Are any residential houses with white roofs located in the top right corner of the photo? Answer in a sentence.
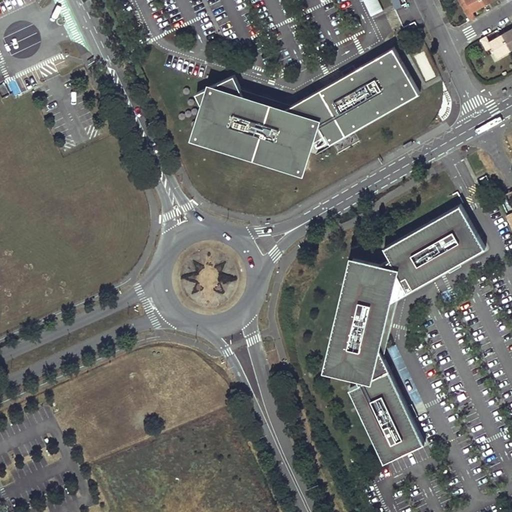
Yes, a residential house with a white roof can be seen in the top right corner of the photo.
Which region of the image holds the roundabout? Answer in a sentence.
The roundabout sits in the center section of the image.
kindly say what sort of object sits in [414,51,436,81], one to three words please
shed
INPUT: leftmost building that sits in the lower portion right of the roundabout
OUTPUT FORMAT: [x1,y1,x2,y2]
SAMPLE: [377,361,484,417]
[322,190,486,466]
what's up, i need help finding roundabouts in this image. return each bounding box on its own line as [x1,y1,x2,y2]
[152,220,267,334]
